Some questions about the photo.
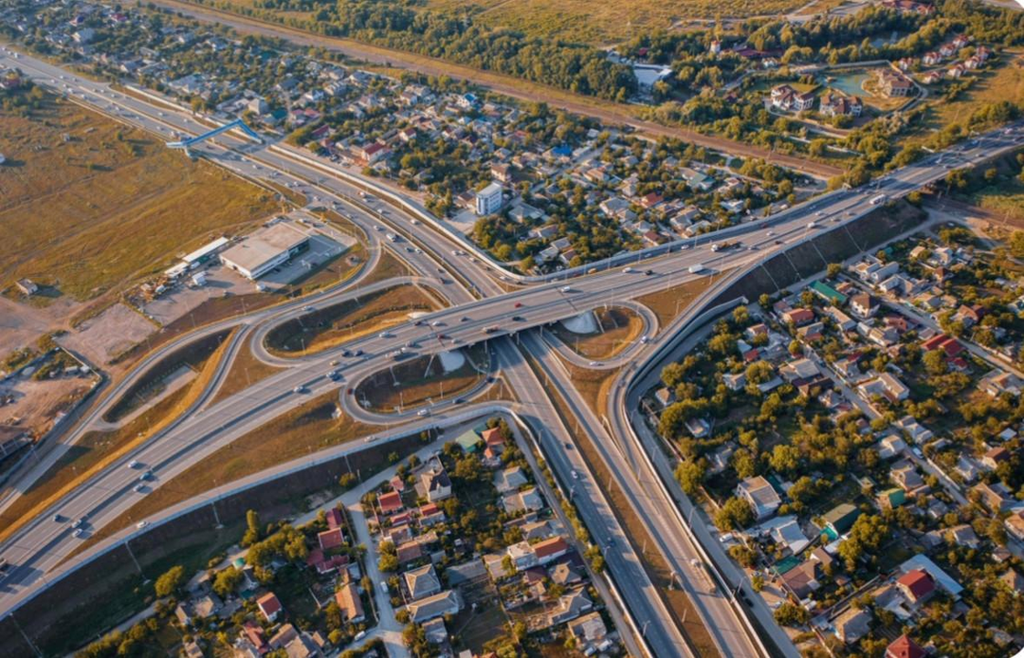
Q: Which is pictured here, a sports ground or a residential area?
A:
residential area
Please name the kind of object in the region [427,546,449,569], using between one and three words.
shed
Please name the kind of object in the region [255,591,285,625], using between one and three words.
house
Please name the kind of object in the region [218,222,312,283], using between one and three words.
building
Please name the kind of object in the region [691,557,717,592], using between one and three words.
truck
